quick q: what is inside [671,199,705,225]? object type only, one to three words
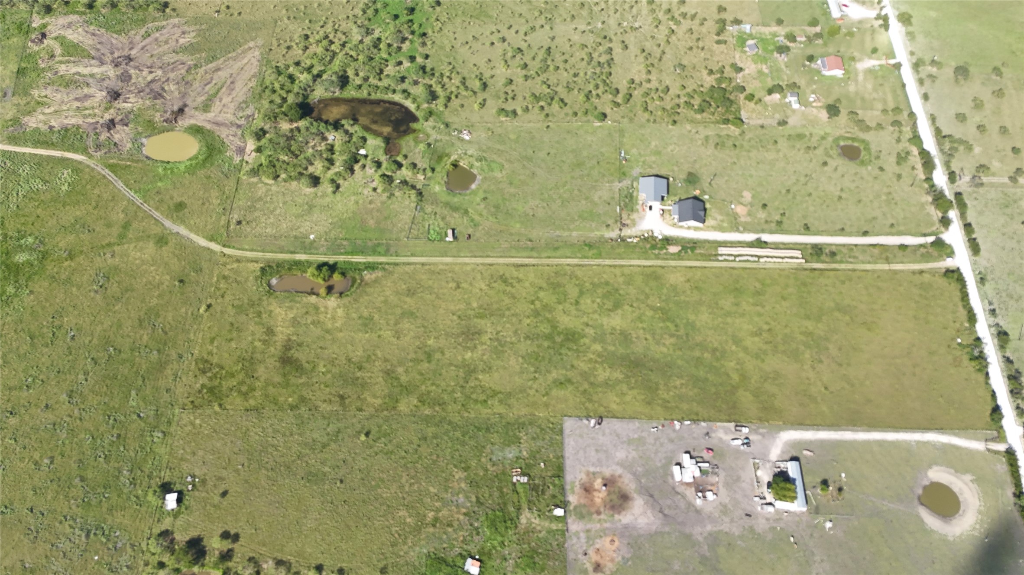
house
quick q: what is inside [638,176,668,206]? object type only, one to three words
house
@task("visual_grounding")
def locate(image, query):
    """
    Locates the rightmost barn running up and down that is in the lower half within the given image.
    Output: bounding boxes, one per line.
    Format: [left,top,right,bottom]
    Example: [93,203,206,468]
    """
[786,462,806,512]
